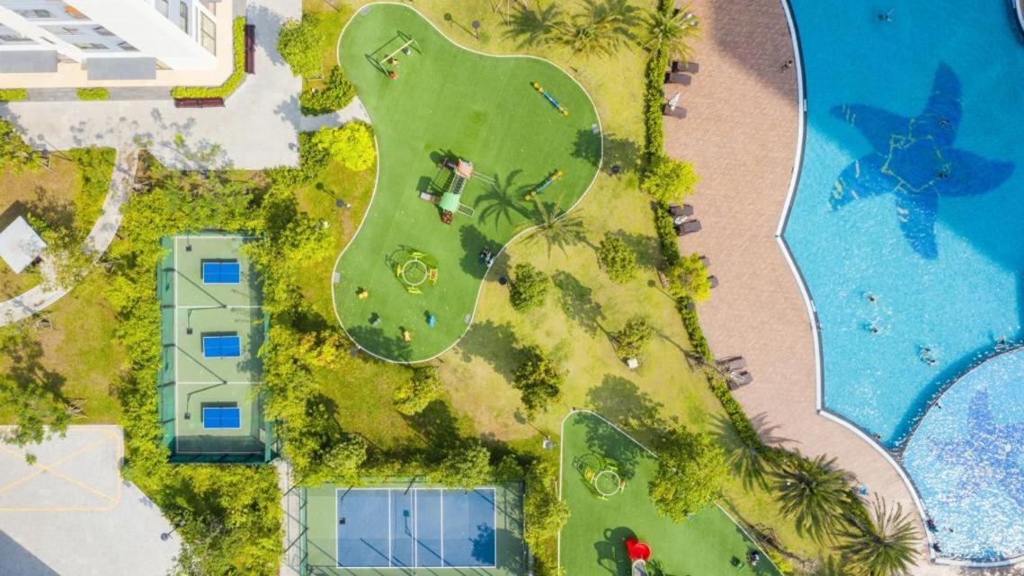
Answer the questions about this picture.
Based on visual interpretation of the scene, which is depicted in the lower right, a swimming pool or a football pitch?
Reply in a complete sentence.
Visible in the lower right is a swimming pool.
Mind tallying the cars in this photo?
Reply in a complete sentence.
There are no cars in the image.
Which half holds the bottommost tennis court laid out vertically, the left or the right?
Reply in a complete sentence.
The bottommost tennis court laid out vertically appears in the left half of the scene.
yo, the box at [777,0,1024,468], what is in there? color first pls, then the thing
blue swimming pool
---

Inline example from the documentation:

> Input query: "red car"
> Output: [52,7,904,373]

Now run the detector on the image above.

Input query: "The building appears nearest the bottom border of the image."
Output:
[0,216,62,273]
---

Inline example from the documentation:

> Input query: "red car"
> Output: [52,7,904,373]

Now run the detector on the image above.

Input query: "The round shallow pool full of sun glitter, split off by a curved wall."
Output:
[892,338,1024,569]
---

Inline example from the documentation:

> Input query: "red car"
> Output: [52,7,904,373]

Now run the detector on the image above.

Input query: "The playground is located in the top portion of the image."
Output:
[331,1,604,364]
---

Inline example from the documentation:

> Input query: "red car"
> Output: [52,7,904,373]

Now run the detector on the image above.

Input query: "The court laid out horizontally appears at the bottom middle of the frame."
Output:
[299,473,524,576]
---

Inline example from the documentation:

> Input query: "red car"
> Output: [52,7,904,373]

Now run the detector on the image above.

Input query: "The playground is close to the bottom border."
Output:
[557,410,782,576]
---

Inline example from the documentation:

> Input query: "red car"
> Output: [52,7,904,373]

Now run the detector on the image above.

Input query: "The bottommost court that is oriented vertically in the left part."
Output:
[174,232,272,454]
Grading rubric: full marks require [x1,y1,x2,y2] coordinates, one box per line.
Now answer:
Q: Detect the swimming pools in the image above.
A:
[777,0,1024,468]
[892,338,1024,569]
